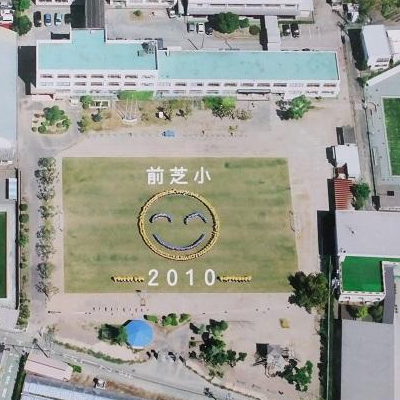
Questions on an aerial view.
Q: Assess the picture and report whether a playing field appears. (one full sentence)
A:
Yes, a playing field appears in the view.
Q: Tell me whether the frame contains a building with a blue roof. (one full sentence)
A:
Yes, you can see a building with a blue roof in this photo.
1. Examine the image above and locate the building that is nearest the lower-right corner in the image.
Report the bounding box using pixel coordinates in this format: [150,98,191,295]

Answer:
[341,322,395,400]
